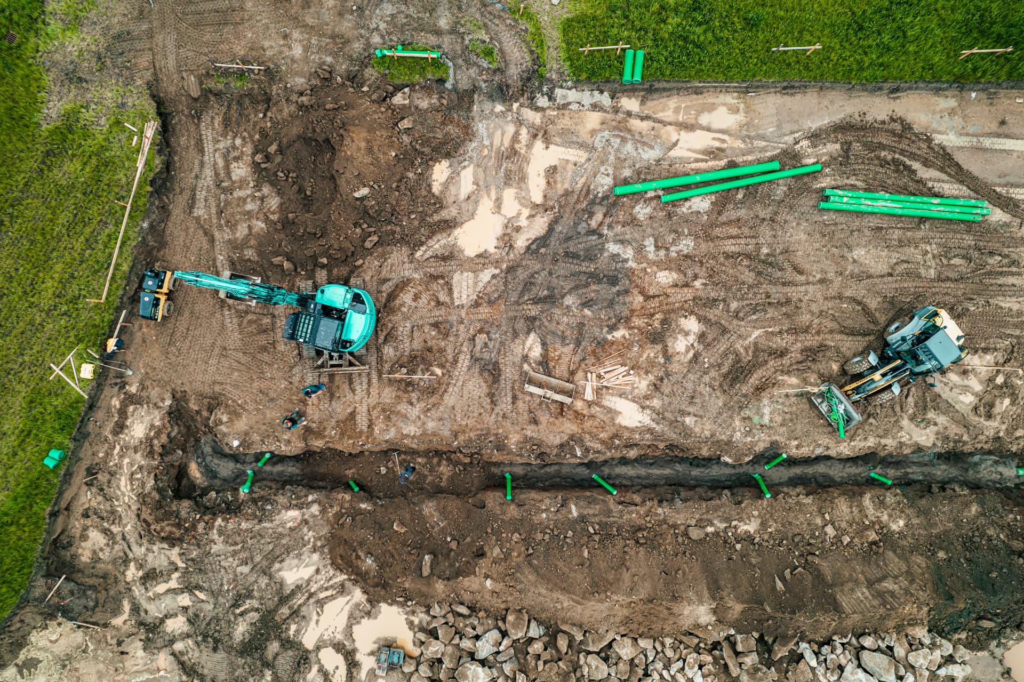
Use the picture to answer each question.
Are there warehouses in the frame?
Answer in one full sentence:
No, the scene contains no warehouse.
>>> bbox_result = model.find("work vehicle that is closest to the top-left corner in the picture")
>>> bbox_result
[169,269,381,376]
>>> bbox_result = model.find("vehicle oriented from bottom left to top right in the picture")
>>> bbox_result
[810,306,968,433]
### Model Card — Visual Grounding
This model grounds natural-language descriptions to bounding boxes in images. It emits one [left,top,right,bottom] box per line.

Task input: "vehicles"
[810,306,968,433]
[169,269,381,376]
